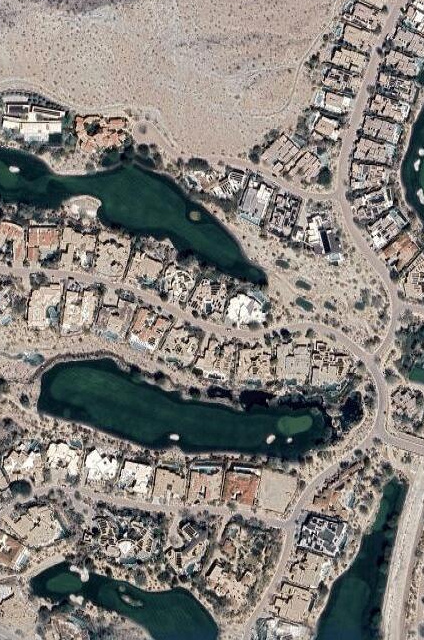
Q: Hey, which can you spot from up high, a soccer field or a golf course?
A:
golf course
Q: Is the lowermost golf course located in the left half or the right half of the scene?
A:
left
